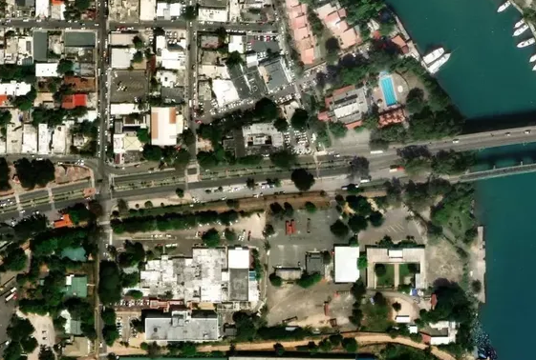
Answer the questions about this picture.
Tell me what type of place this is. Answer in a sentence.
What you see here is a residential area.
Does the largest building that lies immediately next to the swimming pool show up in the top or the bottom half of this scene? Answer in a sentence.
The top half of the photo is where the largest building that lies immediately next to the swimming pool is.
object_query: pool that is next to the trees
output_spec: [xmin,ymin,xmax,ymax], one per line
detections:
[379,73,397,106]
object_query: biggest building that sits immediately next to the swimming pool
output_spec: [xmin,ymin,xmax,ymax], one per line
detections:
[322,85,368,123]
